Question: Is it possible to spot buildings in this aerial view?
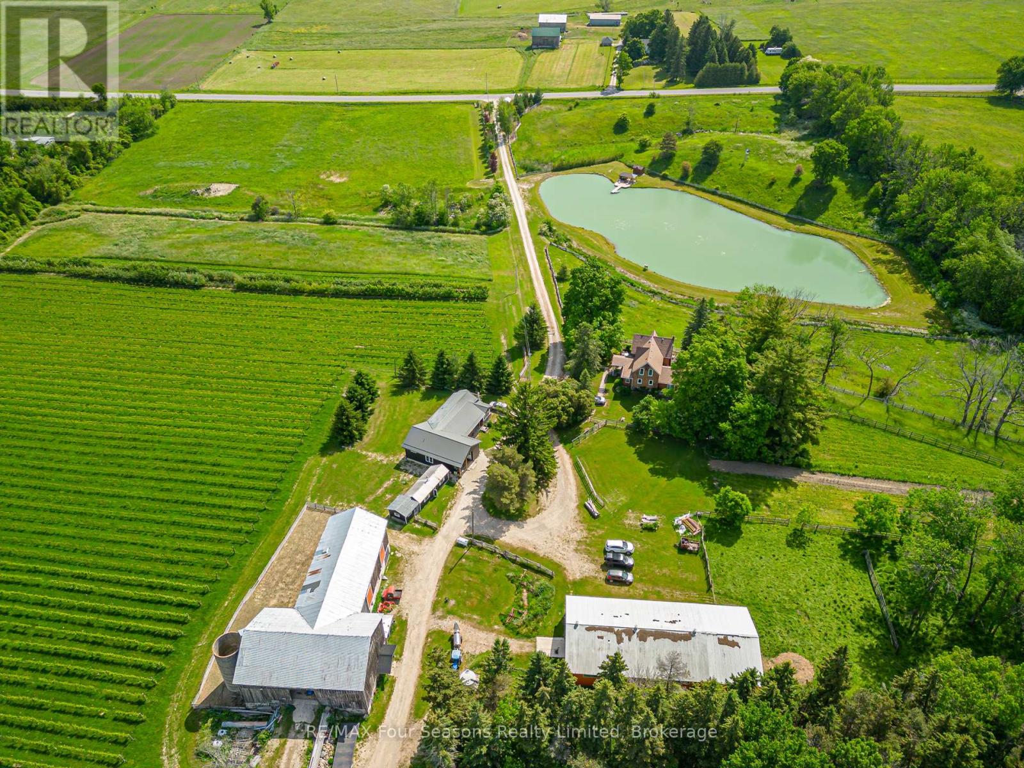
Yes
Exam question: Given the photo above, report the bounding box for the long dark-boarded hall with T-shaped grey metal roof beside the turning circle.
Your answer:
[402,385,496,479]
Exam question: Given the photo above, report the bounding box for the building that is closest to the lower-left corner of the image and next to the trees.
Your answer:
[231,502,398,714]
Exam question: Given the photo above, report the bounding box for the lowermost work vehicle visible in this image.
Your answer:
[447,647,464,675]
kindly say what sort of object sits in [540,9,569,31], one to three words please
barn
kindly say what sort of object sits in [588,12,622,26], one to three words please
shed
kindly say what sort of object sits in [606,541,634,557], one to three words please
car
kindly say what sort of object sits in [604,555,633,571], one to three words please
car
